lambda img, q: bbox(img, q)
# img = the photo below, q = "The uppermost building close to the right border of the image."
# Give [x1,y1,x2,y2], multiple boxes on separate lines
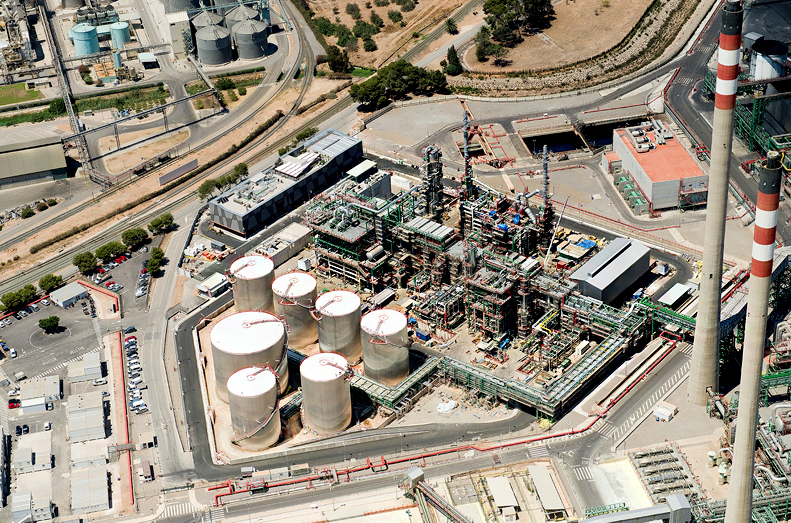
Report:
[740,32,759,59]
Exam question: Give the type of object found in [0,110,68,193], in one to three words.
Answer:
shed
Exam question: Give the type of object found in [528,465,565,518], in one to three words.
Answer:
shed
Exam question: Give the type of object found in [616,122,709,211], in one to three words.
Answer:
house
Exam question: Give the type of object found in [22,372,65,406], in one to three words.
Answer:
building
